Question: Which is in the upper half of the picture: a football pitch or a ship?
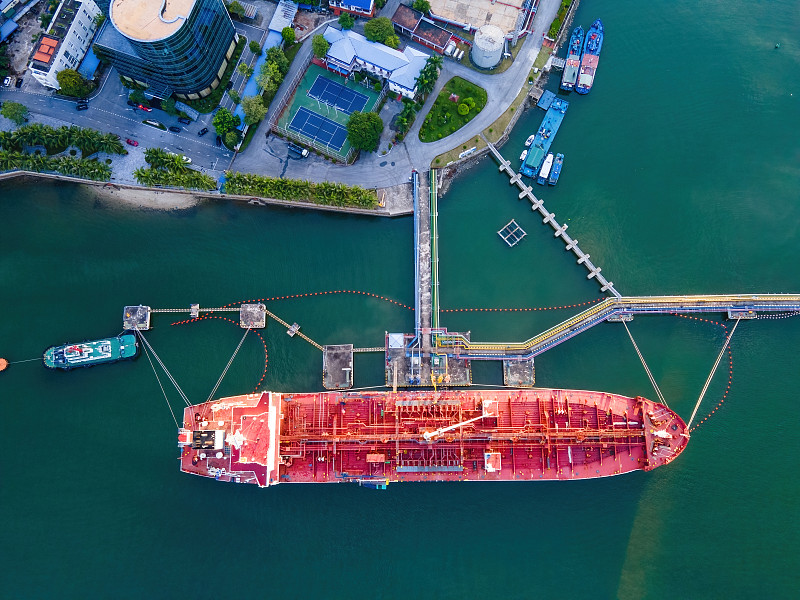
ship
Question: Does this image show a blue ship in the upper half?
Yes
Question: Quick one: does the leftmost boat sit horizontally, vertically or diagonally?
horizontally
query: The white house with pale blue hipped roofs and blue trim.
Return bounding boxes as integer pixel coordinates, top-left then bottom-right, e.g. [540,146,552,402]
[323,26,430,100]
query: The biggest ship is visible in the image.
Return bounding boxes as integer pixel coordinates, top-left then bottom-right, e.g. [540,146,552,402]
[173,390,695,488]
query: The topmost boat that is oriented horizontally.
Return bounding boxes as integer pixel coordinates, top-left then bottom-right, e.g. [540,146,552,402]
[42,332,141,371]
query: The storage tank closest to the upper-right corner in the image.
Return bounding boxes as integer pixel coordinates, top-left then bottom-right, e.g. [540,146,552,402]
[470,23,516,69]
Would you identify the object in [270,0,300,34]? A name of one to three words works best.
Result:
shed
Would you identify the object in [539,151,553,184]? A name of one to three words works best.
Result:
boat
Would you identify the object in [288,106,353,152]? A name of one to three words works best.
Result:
tennis court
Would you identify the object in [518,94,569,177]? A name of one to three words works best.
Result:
ship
